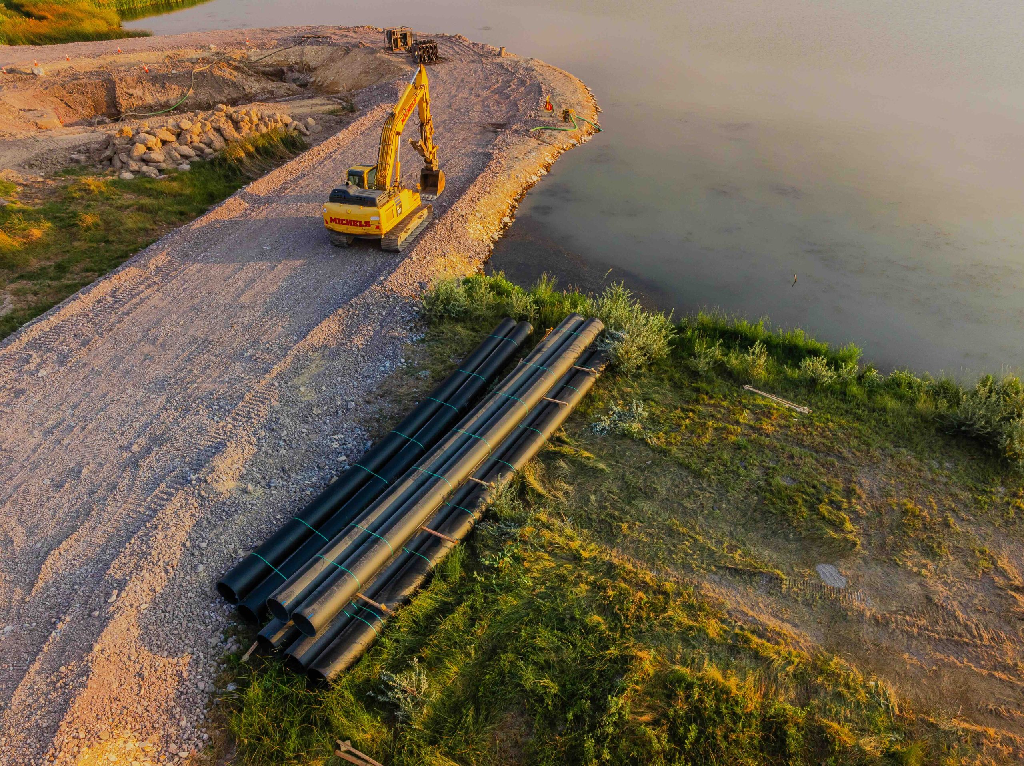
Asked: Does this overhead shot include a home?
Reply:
No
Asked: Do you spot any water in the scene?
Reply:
Yes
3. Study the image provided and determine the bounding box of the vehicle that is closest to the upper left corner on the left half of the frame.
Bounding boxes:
[321,62,446,251]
